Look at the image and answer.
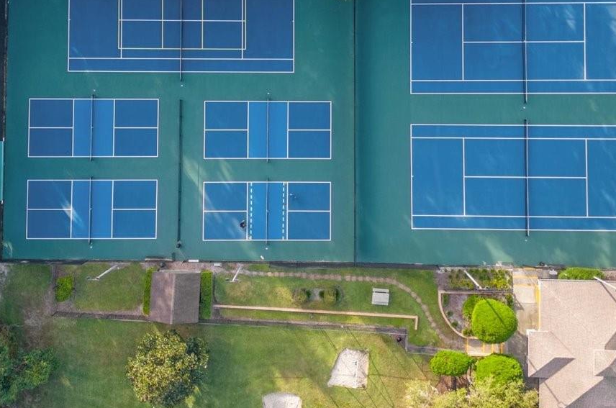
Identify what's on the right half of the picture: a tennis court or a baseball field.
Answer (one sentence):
Visible on the right half of the picture is a tennis court.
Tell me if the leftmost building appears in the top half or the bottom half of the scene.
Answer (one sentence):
You can find the leftmost building in the bottom half.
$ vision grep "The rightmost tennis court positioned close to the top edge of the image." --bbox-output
[410,0,616,93]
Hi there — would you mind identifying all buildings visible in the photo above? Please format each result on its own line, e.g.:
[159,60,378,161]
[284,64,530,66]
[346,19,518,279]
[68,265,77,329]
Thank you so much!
[150,269,202,324]
[522,280,616,408]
